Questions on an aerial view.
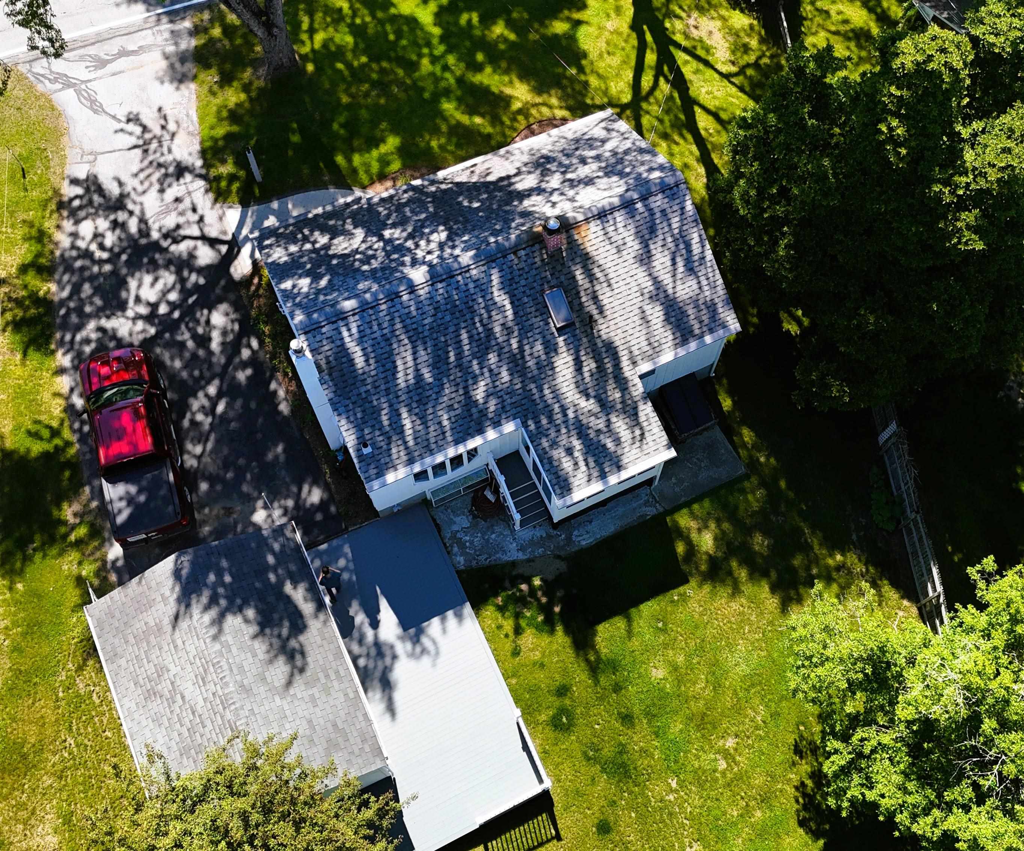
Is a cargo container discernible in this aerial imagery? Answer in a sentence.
No, there isn't any cargo container down there.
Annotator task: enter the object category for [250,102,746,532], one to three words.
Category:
house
